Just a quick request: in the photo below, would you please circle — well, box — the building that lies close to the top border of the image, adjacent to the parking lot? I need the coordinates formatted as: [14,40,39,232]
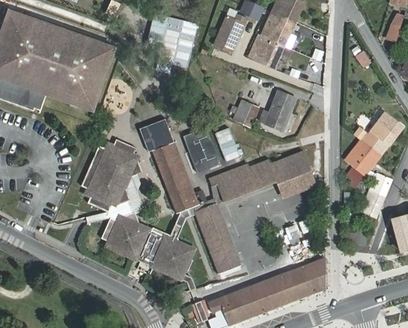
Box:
[0,9,114,112]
